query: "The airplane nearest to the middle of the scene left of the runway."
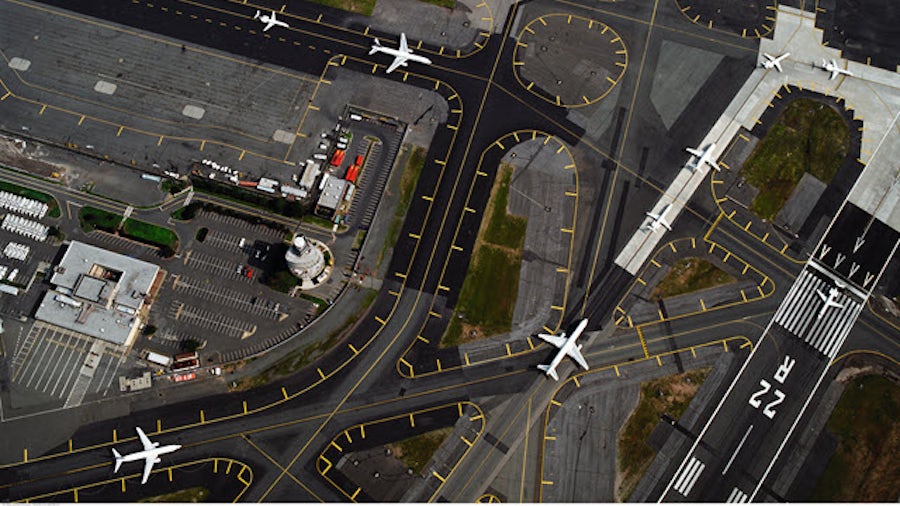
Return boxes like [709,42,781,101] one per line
[538,320,588,380]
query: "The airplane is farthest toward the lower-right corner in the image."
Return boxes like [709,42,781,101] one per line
[815,285,843,317]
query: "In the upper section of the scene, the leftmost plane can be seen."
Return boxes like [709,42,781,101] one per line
[255,9,289,31]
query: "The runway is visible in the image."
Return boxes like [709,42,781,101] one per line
[657,114,900,506]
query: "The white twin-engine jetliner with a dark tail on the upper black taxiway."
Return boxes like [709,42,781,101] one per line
[368,33,432,73]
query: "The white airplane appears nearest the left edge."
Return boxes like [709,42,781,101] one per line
[110,425,183,485]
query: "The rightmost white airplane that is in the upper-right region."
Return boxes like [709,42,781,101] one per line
[824,60,852,78]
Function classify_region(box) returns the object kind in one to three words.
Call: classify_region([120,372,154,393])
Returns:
building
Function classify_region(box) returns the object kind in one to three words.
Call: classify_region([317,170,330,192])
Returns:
vehicle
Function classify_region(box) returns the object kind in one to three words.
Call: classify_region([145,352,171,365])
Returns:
vehicle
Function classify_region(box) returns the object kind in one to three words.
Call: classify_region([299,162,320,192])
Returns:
shed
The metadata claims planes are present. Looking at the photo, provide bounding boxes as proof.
[538,320,588,380]
[110,425,183,485]
[824,60,852,78]
[255,9,289,31]
[689,144,725,170]
[815,285,843,317]
[368,33,432,73]
[762,51,789,71]
[647,205,673,233]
